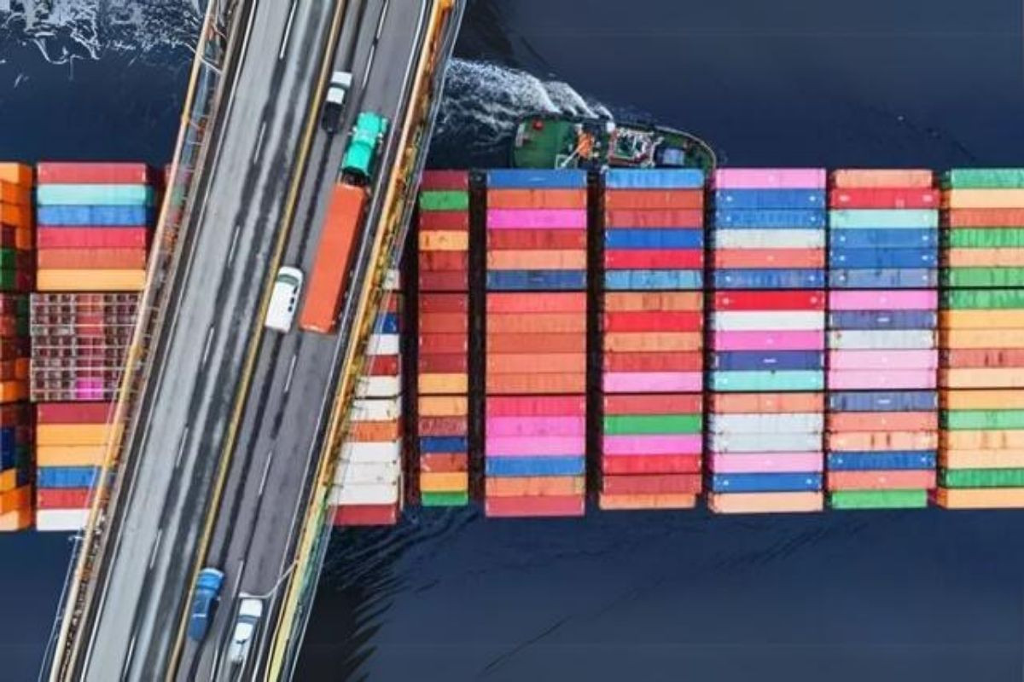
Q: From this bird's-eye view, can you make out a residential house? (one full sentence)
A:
No, this view has no residential house in it.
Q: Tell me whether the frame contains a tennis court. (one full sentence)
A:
No, the picture doesn't show any tennis court.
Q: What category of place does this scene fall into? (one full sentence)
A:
What you see here is a port.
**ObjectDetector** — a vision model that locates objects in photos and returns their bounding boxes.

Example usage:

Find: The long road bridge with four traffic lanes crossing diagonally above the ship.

[31,0,469,682]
